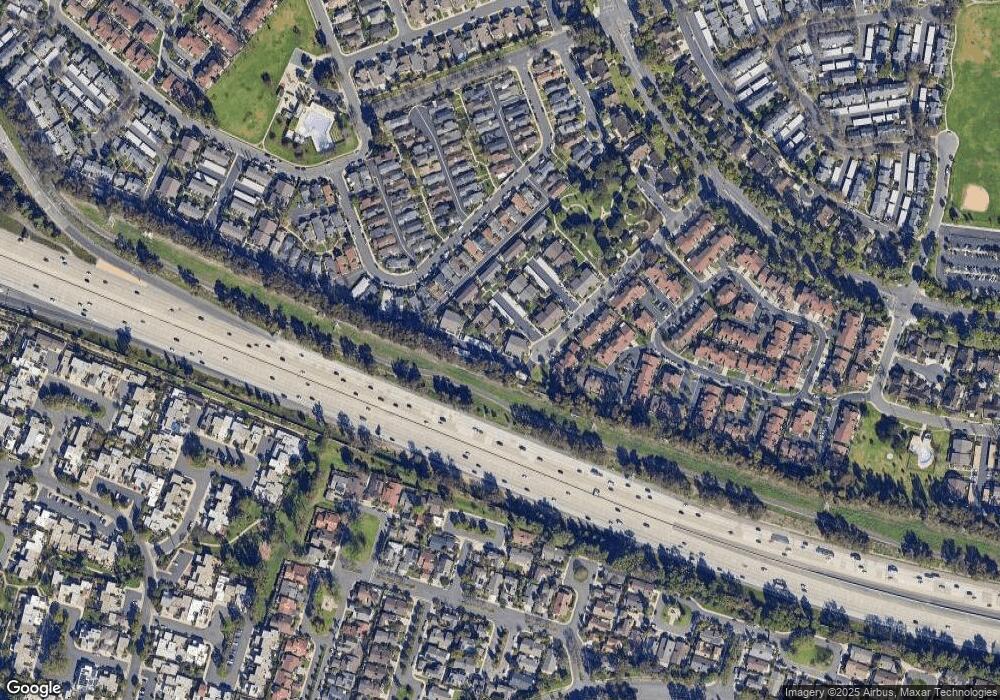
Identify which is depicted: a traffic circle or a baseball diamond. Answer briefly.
baseball diamond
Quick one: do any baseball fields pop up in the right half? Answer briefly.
Yes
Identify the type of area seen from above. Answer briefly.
residential area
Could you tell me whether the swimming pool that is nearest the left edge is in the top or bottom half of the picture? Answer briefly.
top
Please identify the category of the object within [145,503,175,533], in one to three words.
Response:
house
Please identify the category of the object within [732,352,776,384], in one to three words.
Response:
house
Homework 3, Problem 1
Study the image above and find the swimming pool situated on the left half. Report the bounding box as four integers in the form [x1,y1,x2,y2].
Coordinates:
[296,103,335,151]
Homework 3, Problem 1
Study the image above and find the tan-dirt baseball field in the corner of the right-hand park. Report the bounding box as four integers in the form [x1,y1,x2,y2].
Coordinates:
[962,185,989,212]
